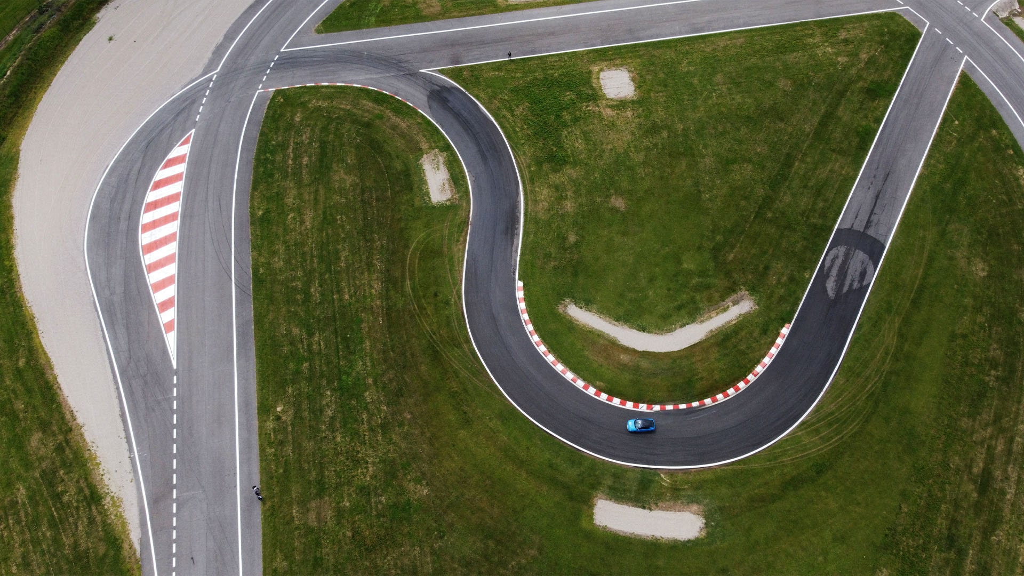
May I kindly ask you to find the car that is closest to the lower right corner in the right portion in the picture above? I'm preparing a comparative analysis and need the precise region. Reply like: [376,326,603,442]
[627,417,657,433]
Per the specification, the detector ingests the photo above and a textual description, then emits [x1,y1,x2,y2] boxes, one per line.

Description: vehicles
[627,417,657,433]
[249,484,262,500]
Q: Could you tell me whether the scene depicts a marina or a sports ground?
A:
sports ground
